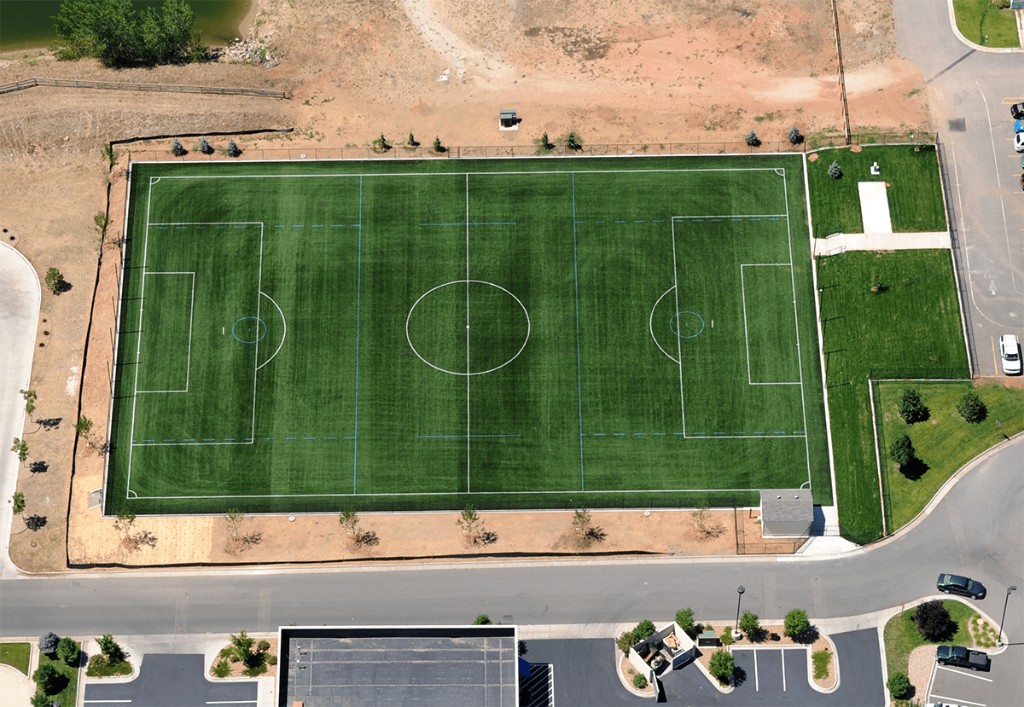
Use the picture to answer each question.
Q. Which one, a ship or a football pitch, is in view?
football pitch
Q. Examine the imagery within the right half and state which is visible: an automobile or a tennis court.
automobile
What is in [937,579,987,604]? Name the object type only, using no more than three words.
car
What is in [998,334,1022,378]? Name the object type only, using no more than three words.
car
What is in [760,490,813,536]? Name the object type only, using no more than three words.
shed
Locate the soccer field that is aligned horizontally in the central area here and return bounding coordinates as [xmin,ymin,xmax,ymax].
[104,153,834,515]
